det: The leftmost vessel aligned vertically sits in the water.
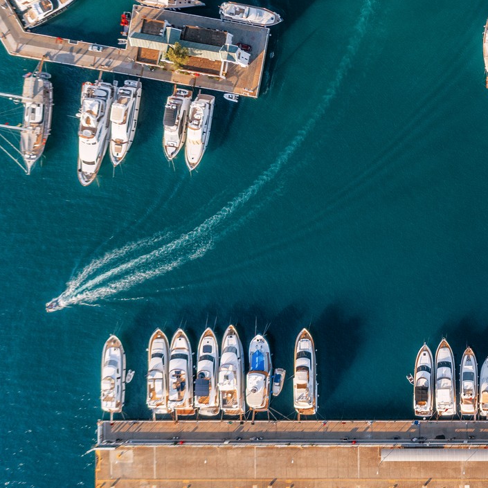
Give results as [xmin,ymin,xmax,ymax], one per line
[0,64,52,178]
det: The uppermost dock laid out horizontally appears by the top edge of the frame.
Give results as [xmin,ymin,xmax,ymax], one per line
[0,0,274,99]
